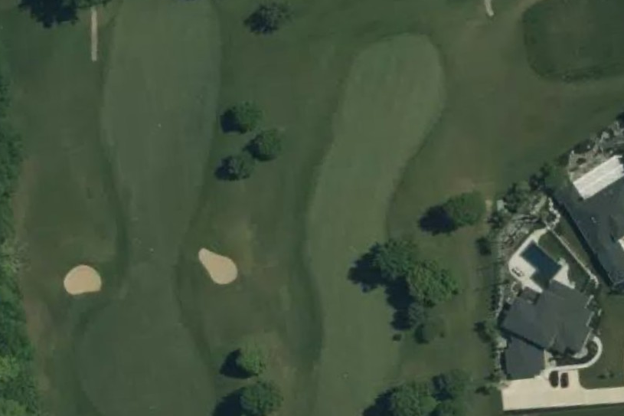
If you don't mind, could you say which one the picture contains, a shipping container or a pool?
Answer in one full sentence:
I can see a pool in this picture.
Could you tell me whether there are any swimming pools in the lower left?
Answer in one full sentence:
No, the scene shows no swimming pool in the lower left.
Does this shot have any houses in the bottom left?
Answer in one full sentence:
No, no house is visible in the bottom left.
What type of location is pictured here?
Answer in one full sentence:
What you see here is a golf course.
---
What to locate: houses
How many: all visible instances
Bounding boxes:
[502,281,595,383]
[562,155,624,286]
